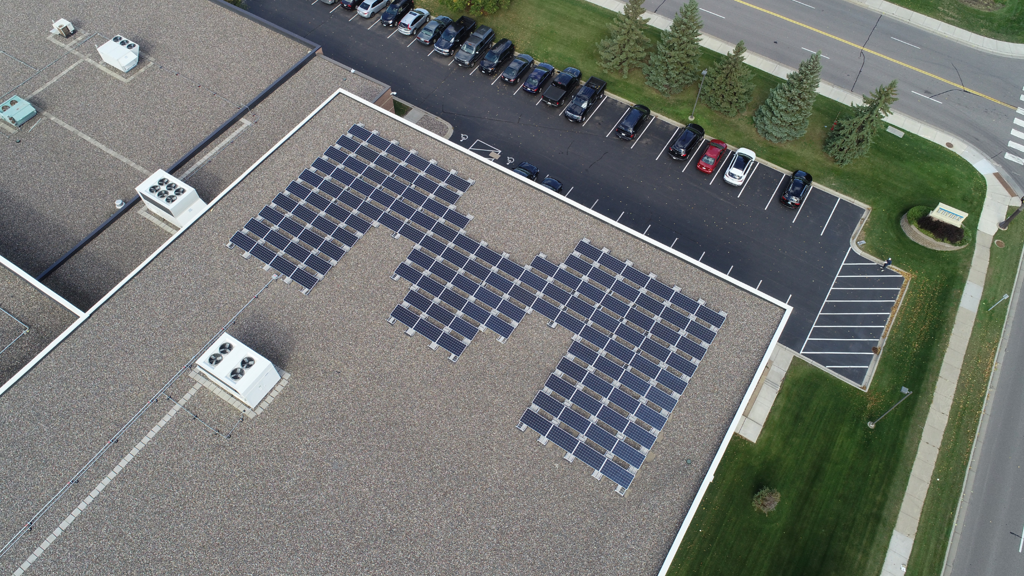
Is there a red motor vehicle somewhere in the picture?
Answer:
Yes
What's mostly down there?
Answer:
buildings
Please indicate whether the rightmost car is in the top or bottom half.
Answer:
top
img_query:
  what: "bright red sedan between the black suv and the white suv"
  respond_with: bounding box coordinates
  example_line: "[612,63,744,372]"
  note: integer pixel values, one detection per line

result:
[694,136,728,172]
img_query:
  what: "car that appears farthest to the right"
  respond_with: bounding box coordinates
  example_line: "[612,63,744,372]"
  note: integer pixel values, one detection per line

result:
[778,166,812,206]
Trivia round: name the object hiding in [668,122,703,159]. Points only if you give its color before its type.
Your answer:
black car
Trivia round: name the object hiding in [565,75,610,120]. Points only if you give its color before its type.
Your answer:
black truck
